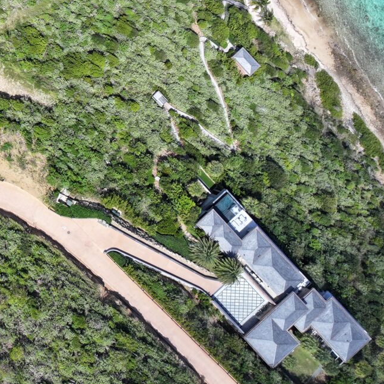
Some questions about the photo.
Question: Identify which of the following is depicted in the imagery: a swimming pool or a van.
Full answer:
It is a swimming pool that can be seen here.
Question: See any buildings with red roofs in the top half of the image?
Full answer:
No, I see no building with a red roof in the top half of the image.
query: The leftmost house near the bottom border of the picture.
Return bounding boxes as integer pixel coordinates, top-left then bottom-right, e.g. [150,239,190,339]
[240,292,307,367]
